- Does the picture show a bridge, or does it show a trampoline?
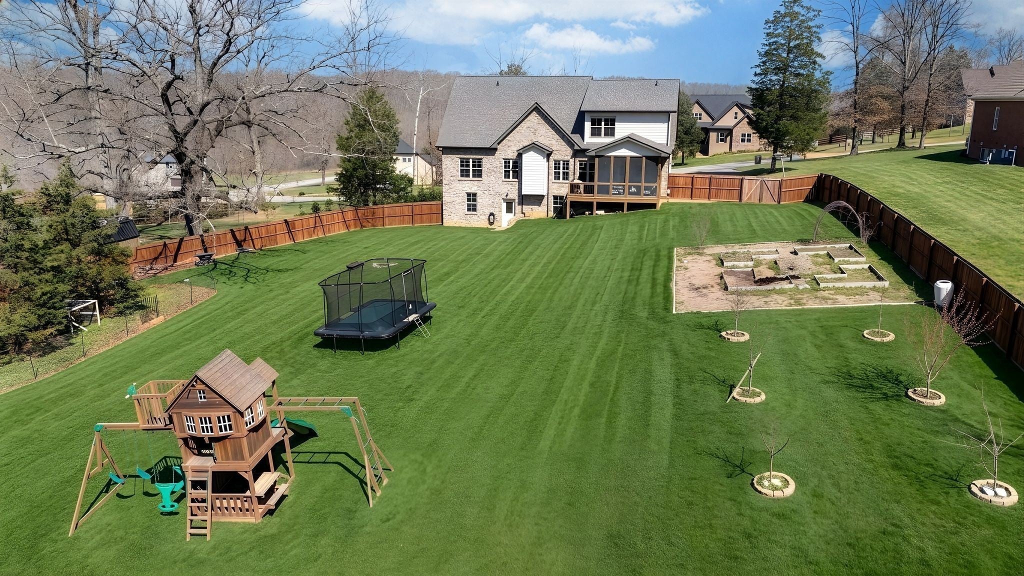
trampoline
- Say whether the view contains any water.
No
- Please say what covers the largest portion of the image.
grass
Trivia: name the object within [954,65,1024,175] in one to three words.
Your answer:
house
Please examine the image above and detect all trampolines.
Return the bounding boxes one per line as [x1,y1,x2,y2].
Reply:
[321,260,434,355]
